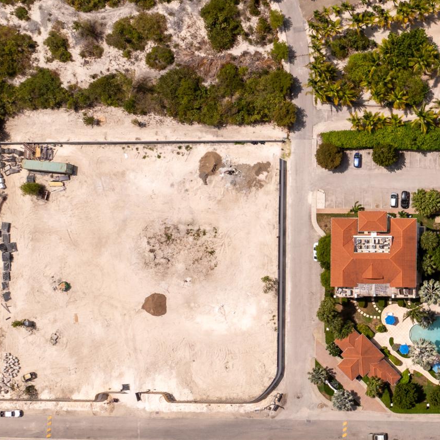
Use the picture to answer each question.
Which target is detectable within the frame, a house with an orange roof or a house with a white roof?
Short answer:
house with an orange roof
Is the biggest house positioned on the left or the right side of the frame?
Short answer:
right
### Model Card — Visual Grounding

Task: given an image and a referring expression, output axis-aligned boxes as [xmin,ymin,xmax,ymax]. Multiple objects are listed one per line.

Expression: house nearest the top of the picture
[331,212,419,299]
